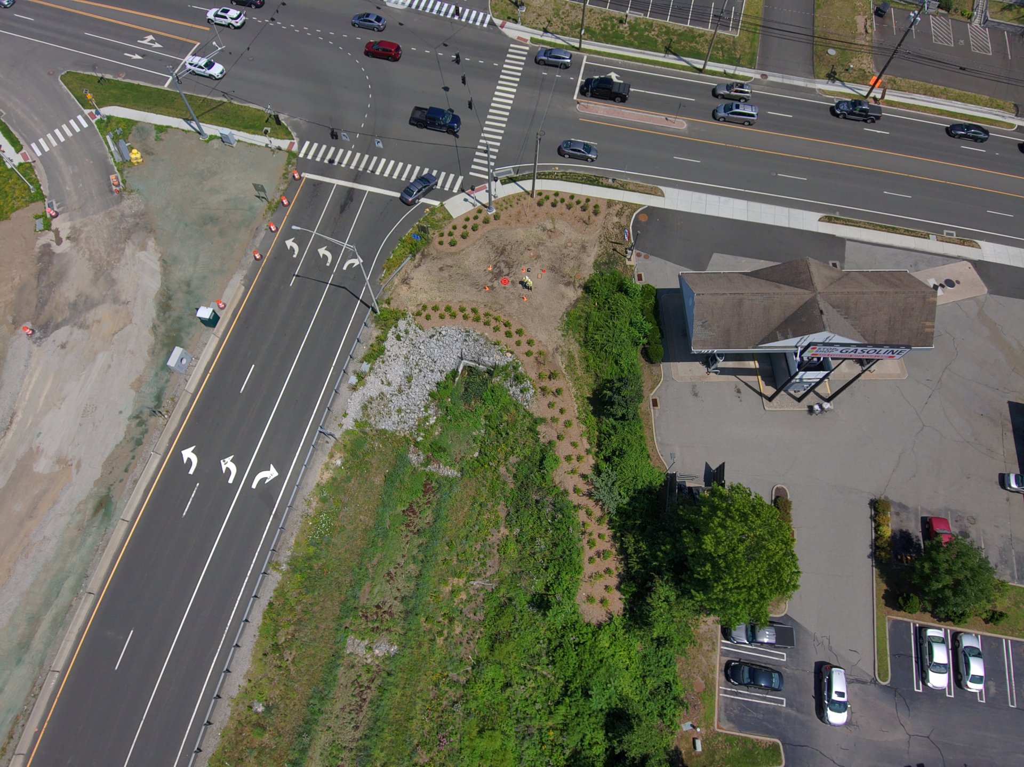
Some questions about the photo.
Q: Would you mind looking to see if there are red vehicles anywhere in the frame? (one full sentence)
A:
Yes, I can see a red vehicle in this picture.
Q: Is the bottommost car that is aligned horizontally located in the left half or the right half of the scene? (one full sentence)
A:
The bottommost car that is aligned horizontally is on the right side of the image.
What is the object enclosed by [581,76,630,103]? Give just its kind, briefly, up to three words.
truck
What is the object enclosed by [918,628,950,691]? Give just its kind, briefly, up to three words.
car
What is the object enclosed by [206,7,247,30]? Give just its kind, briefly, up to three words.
car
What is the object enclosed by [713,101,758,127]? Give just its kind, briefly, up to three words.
vehicle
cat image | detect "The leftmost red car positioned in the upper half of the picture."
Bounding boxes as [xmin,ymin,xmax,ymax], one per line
[365,40,402,63]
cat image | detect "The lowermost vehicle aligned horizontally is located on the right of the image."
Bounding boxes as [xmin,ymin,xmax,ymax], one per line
[724,660,783,690]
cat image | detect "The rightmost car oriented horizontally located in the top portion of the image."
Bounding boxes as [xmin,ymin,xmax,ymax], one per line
[945,122,991,145]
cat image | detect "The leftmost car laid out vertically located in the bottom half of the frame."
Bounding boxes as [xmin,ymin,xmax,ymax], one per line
[818,662,851,727]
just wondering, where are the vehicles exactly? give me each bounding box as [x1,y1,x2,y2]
[952,633,984,695]
[724,660,783,690]
[185,56,225,81]
[713,101,758,127]
[350,12,388,34]
[712,82,753,104]
[365,40,402,63]
[409,107,460,135]
[832,98,882,124]
[818,662,851,727]
[918,628,950,691]
[581,76,630,103]
[945,122,991,145]
[206,7,247,30]
[535,47,572,69]
[726,620,793,648]
[230,0,267,11]
[557,141,599,164]
[399,175,438,206]
[921,509,958,547]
